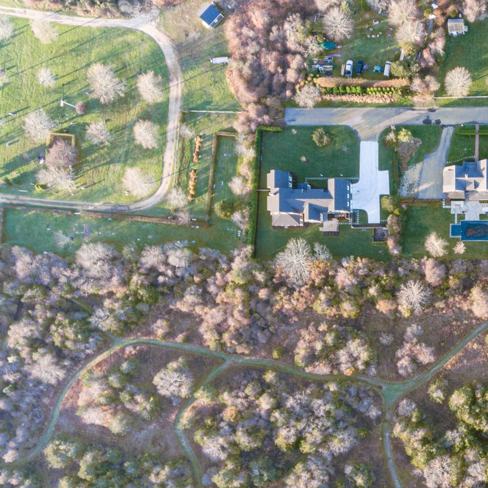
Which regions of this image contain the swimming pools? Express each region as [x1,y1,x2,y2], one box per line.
[462,221,488,240]
[451,224,462,236]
